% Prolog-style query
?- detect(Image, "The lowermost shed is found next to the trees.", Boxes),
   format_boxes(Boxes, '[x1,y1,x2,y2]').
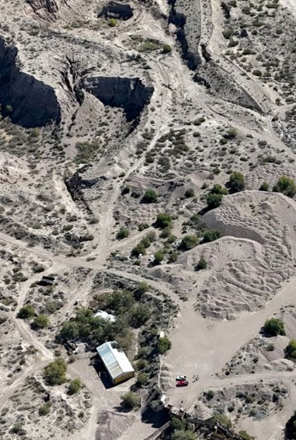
[96,342,134,383]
